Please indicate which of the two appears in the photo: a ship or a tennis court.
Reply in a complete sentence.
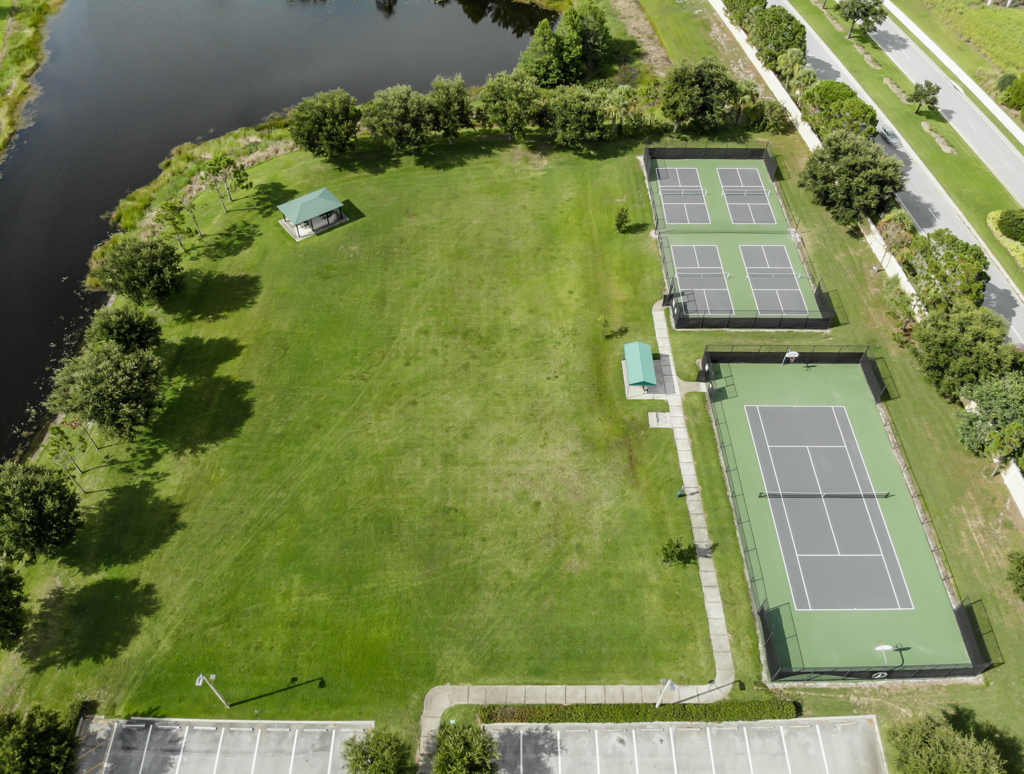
The image shows a tennis court.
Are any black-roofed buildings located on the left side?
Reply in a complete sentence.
No, there's no black-roofed building to be seen on the left side.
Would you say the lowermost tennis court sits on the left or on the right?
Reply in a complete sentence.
The lowermost tennis court sits on the right side.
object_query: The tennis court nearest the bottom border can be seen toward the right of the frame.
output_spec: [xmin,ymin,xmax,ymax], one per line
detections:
[703,363,985,684]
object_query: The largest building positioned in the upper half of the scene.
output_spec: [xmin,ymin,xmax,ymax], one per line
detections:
[277,187,349,241]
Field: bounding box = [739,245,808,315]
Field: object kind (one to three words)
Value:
sports court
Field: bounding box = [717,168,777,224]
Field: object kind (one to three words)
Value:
sports court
